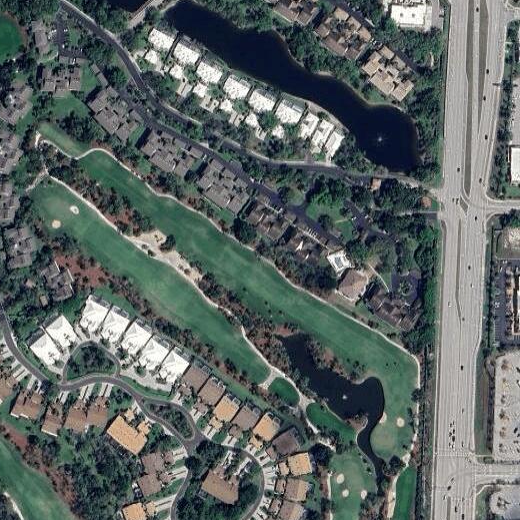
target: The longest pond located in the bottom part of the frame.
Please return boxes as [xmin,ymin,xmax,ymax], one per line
[278,333,385,495]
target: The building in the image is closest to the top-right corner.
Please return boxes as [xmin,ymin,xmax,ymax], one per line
[391,5,431,28]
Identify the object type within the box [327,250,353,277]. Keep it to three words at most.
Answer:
swimming pool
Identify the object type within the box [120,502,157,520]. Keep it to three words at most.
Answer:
house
